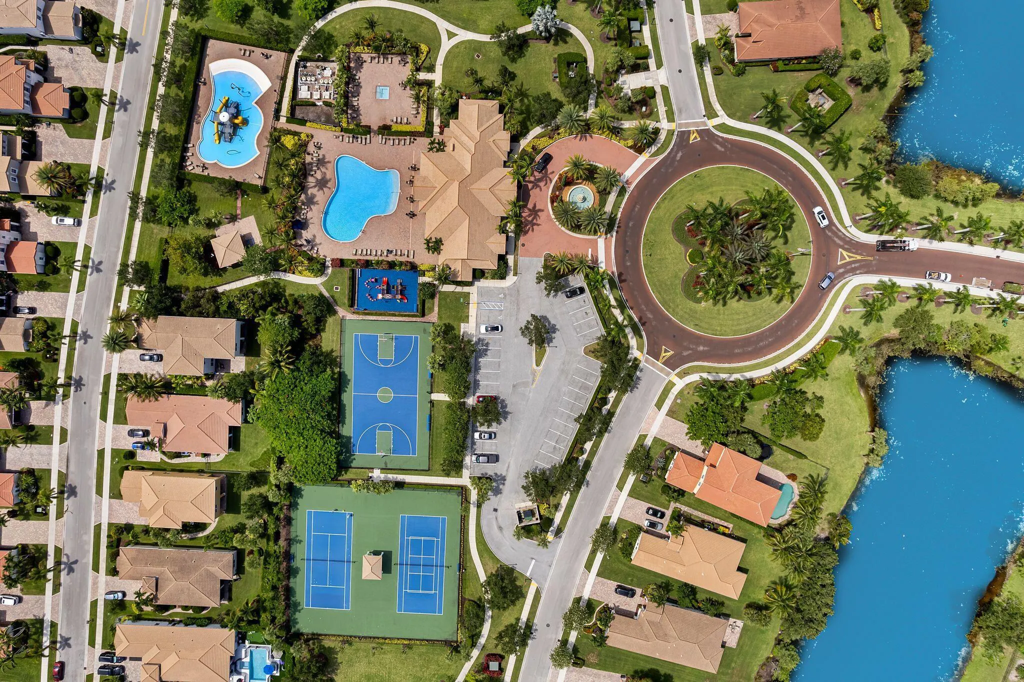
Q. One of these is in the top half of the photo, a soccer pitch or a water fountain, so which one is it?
water fountain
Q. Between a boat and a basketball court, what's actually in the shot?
basketball court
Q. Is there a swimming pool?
Yes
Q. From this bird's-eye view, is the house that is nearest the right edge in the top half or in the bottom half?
top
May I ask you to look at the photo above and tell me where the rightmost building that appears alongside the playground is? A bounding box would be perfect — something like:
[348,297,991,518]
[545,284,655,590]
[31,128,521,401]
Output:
[413,97,517,281]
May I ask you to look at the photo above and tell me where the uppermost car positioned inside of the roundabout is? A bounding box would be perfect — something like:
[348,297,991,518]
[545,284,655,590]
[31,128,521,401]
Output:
[812,206,829,228]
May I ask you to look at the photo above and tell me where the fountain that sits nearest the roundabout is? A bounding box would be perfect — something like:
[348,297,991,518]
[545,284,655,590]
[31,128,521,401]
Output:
[569,185,595,211]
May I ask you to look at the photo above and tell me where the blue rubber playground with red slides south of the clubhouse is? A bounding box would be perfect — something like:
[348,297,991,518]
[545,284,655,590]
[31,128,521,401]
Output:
[355,269,418,313]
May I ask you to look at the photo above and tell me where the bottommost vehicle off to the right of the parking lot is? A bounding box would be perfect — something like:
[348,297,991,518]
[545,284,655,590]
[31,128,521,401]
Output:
[615,584,635,597]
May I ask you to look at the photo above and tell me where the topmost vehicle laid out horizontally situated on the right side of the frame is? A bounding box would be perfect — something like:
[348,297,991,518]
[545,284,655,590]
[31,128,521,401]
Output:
[870,239,917,252]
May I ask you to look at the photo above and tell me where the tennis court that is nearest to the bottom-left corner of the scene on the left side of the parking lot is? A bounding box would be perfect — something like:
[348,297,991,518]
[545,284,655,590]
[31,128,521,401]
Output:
[304,510,353,610]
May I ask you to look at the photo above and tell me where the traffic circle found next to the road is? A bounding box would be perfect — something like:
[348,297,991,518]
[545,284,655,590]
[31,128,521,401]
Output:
[612,126,1024,376]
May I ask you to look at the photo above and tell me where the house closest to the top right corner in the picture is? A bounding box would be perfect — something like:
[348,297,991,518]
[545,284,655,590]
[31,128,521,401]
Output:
[733,0,841,64]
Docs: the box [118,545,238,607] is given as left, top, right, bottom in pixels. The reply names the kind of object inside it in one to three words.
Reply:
house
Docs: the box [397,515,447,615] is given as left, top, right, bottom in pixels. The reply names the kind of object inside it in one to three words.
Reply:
tennis court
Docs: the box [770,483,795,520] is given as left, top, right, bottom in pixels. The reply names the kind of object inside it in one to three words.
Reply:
swimming pool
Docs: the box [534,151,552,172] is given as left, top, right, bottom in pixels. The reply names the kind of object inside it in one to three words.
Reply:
car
